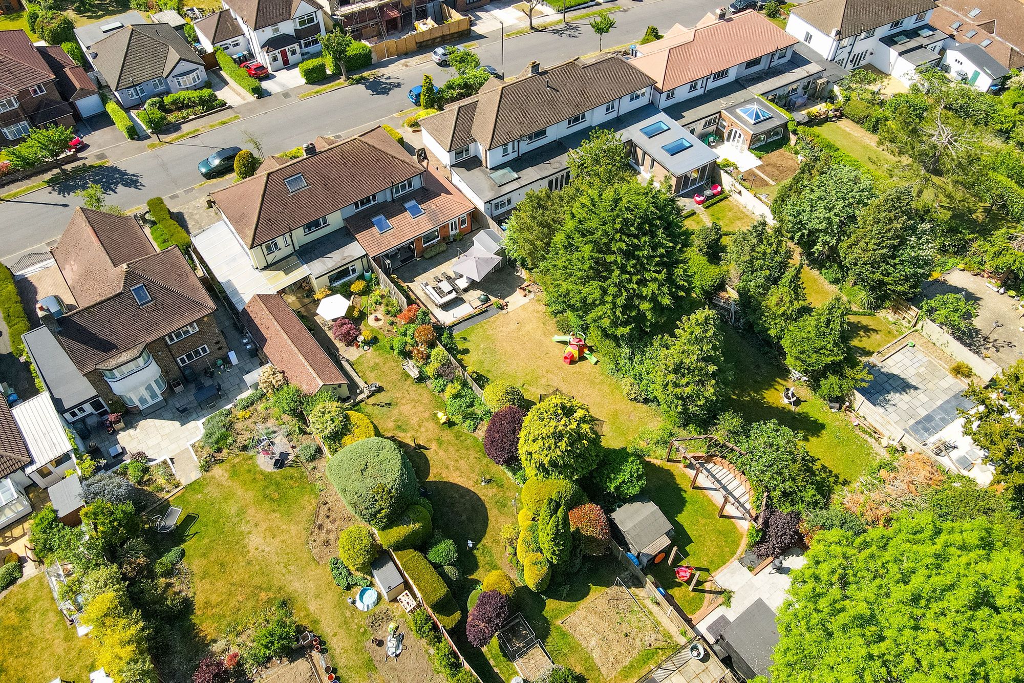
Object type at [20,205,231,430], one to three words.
house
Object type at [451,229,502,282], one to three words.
umbrella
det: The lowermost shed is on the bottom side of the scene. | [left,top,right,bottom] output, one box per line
[366,550,408,608]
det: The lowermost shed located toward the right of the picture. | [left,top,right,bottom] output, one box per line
[606,499,682,585]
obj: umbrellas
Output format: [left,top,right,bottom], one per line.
[315,296,353,323]
[451,229,502,282]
